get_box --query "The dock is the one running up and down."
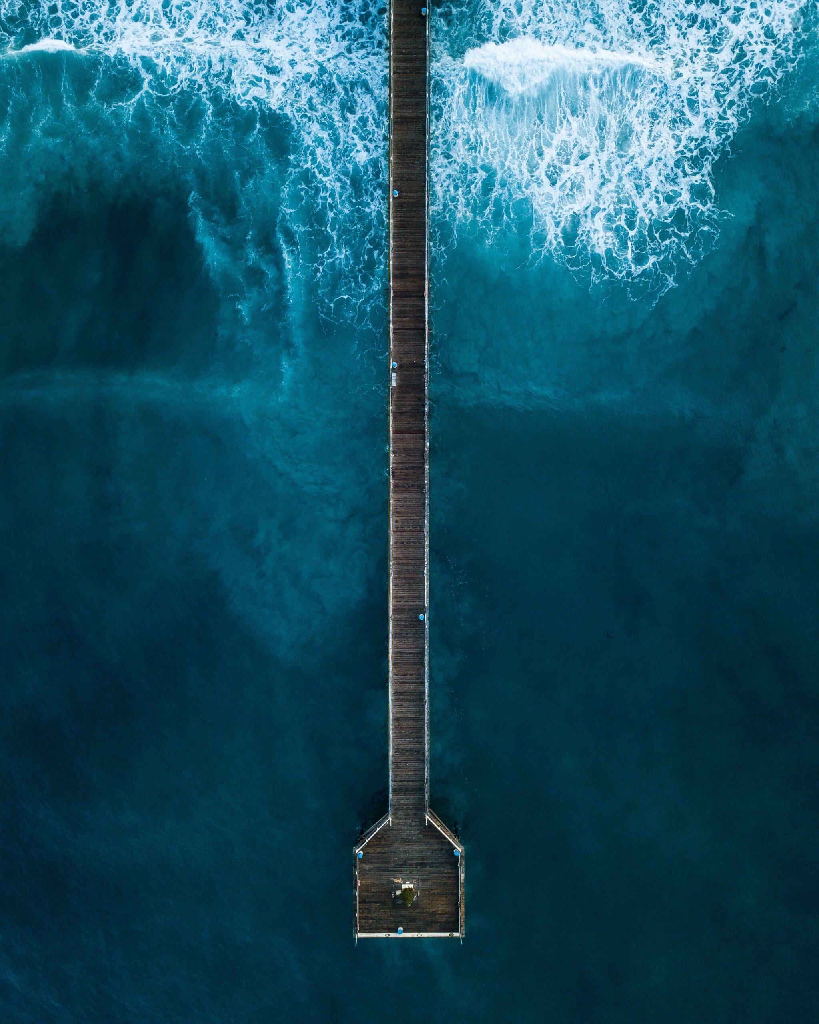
[353,0,465,938]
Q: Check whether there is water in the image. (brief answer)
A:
Yes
